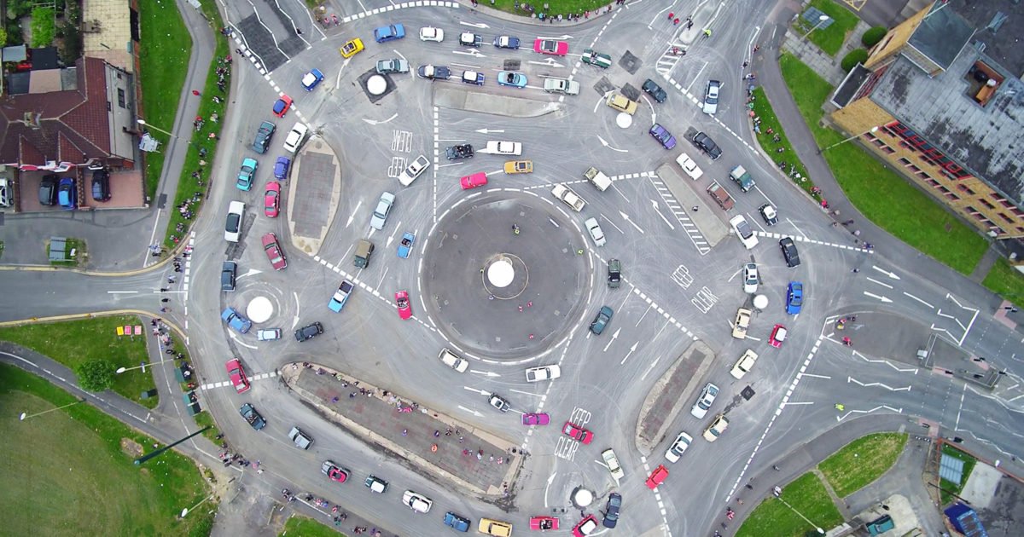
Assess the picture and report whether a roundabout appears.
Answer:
Yes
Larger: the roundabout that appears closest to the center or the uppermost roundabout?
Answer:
the roundabout that appears closest to the center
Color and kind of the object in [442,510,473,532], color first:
blue car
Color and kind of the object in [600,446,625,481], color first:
white car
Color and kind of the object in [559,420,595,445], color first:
red car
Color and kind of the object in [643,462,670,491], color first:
red car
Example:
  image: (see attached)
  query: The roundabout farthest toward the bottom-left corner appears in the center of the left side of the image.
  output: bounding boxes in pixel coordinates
[246,296,273,324]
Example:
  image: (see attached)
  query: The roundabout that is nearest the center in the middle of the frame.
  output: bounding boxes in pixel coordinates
[423,193,589,359]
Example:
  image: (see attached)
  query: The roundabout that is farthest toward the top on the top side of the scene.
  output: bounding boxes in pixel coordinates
[357,68,397,103]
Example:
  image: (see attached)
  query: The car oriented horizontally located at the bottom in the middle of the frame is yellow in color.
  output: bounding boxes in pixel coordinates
[477,517,514,537]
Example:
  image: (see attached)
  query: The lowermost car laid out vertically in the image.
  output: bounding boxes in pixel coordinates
[602,491,622,529]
